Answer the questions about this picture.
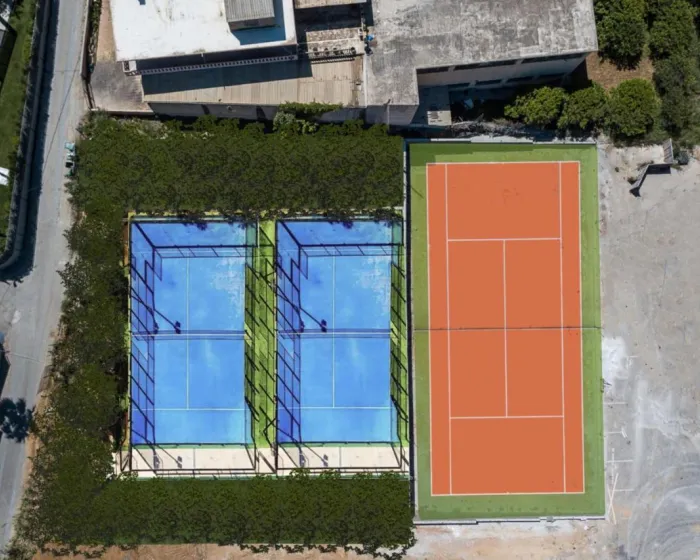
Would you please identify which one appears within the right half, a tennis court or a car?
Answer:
tennis court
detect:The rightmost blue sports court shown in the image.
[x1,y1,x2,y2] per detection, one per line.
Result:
[263,213,409,476]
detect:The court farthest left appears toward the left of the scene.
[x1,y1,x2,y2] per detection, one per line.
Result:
[118,213,263,476]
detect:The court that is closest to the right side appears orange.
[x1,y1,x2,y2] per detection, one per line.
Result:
[410,142,605,519]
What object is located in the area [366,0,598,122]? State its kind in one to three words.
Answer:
building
